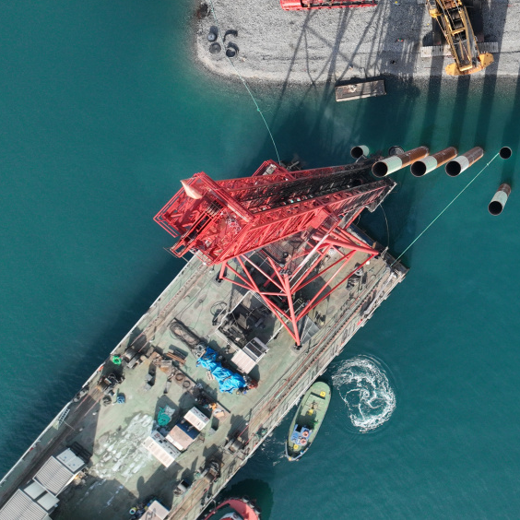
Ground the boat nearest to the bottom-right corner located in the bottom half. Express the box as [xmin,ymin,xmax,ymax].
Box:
[284,379,334,461]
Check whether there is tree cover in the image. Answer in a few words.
No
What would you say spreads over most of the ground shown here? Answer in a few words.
water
